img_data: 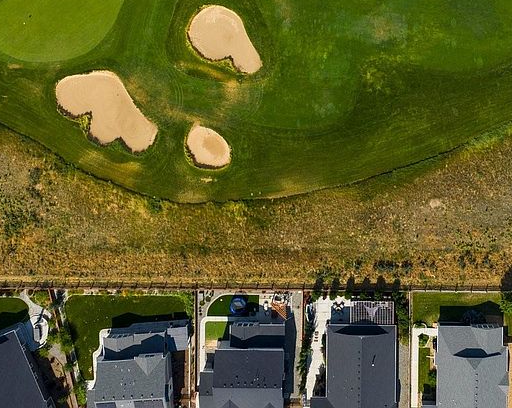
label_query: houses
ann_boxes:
[310,319,398,408]
[0,325,58,408]
[86,324,189,408]
[198,321,286,408]
[436,321,507,408]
